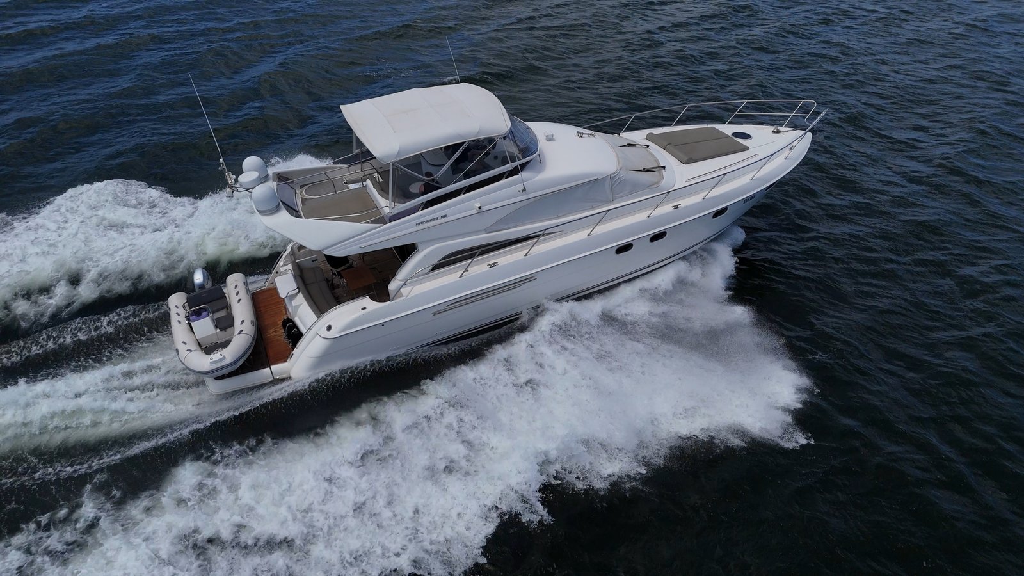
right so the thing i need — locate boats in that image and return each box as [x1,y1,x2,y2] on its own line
[190,38,827,397]
[172,257,259,376]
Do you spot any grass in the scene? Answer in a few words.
No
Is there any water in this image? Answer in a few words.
Yes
